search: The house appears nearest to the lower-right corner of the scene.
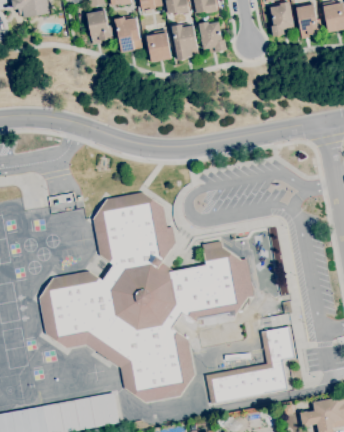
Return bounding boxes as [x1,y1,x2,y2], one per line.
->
[297,398,344,432]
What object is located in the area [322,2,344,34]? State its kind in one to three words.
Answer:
house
